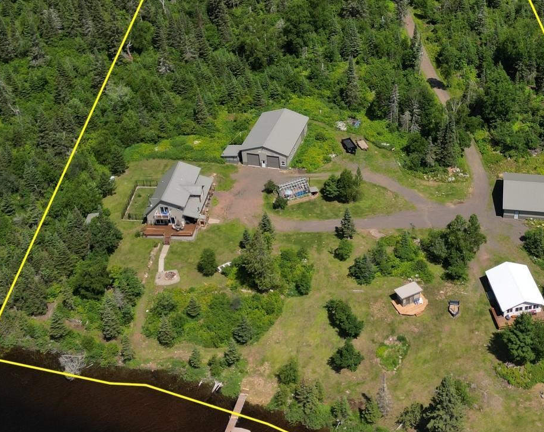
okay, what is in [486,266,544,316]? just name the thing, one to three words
building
